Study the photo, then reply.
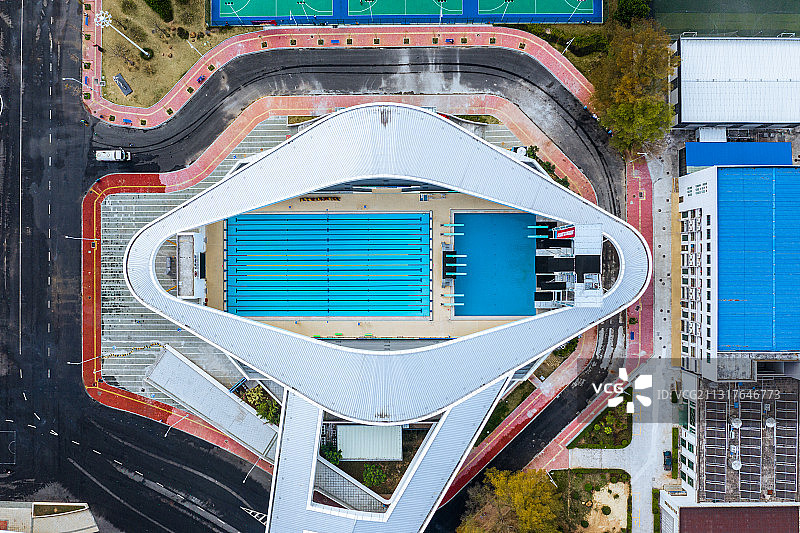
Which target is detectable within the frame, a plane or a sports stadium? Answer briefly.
sports stadium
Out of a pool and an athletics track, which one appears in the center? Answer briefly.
pool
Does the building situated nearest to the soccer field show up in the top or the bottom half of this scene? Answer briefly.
top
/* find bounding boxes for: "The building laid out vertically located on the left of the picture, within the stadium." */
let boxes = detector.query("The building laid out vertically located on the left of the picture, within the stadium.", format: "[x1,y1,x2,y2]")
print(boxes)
[177,228,208,302]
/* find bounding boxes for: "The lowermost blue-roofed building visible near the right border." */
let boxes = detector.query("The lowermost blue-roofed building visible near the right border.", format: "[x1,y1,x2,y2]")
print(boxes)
[677,166,800,385]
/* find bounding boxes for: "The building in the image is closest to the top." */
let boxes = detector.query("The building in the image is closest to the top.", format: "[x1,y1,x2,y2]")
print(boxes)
[670,36,800,126]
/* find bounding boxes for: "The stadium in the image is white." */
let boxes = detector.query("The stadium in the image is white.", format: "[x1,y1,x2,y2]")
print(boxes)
[123,102,653,426]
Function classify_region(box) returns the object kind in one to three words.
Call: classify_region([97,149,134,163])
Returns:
vehicle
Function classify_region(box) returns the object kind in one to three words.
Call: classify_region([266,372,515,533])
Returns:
building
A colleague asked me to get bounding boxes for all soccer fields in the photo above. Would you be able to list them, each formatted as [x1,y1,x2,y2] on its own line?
[653,0,800,37]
